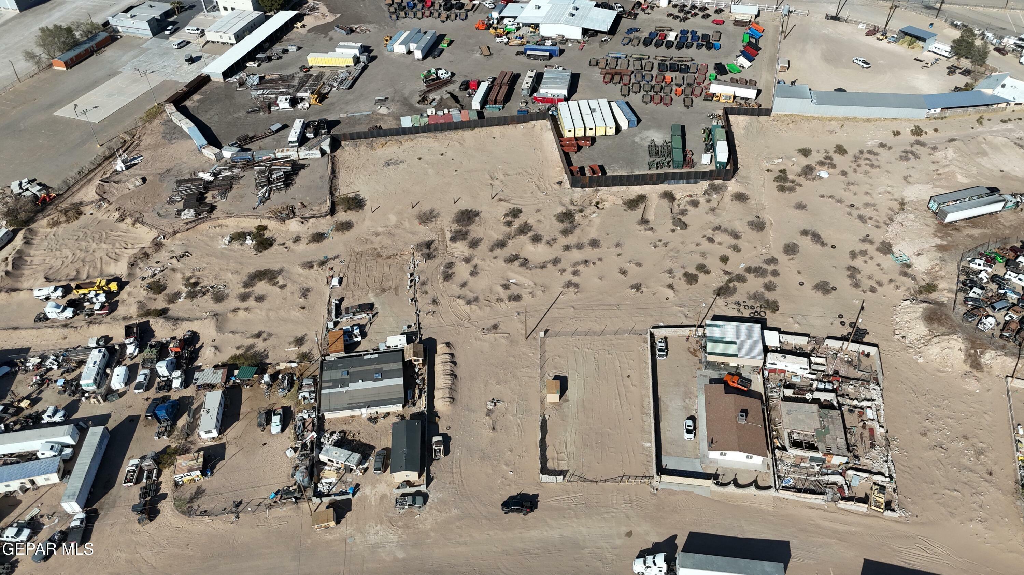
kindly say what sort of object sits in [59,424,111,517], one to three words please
trailer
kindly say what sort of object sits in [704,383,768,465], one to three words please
house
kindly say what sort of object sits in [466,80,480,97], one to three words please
vehicle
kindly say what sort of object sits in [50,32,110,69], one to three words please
building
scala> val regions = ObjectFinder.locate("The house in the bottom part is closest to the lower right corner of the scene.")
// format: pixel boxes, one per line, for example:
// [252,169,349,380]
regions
[778,402,848,466]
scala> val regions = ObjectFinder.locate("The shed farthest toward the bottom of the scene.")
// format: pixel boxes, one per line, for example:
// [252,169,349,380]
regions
[312,507,336,533]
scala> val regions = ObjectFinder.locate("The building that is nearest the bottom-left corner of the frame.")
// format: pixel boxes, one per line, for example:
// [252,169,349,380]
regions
[0,456,69,493]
